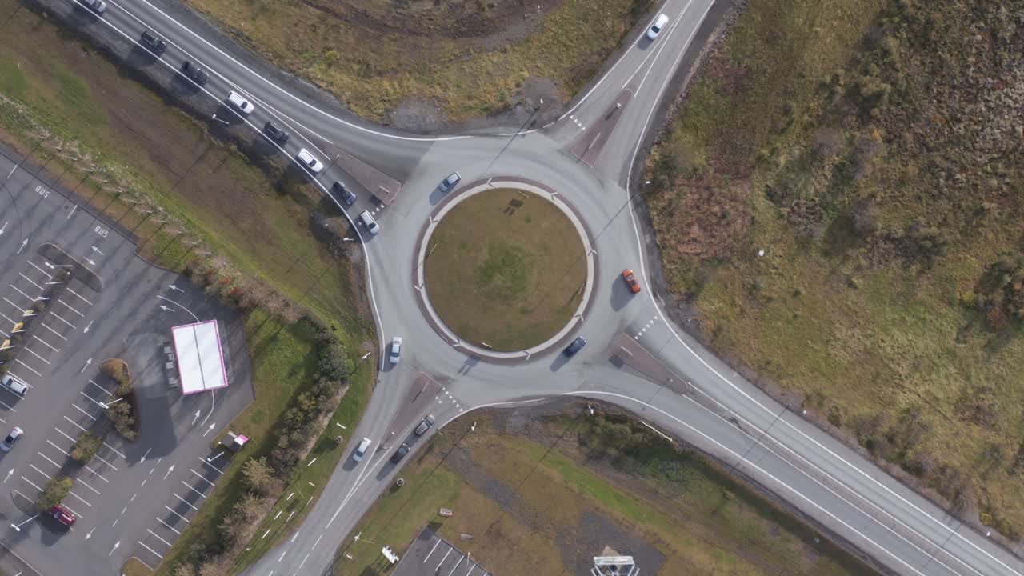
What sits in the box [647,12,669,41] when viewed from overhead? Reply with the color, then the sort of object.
white car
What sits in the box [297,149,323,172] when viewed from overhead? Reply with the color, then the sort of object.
white car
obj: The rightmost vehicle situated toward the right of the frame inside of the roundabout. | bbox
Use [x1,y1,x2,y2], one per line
[622,268,640,294]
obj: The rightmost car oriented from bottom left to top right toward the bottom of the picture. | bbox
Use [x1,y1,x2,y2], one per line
[563,336,585,358]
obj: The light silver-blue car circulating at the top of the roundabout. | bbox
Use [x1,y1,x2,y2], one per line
[439,171,461,192]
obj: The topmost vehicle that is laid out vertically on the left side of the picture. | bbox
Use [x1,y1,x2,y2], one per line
[389,337,403,364]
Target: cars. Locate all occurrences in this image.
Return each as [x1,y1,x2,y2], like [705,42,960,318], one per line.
[139,30,169,54]
[2,374,30,395]
[50,507,78,527]
[181,61,210,85]
[647,12,669,41]
[359,209,381,235]
[622,268,640,294]
[439,171,461,192]
[81,0,109,14]
[226,90,255,114]
[413,412,437,437]
[389,337,403,364]
[262,121,289,144]
[333,180,357,205]
[353,435,373,462]
[563,336,585,358]
[297,149,323,172]
[389,442,411,465]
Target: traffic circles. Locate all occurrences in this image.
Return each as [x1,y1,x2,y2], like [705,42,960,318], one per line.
[357,118,659,412]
